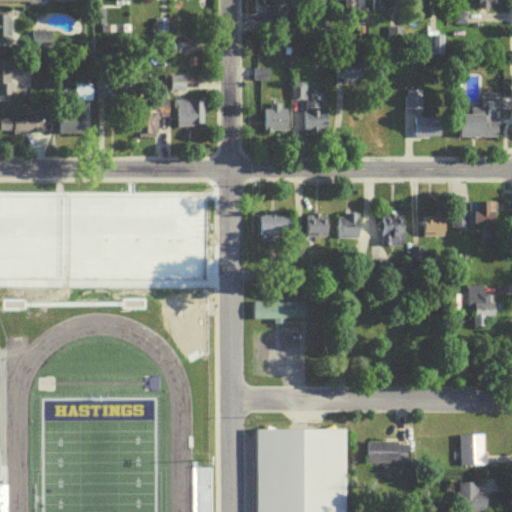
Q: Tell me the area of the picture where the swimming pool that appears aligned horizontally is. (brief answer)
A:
top left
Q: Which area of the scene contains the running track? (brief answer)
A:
bottom left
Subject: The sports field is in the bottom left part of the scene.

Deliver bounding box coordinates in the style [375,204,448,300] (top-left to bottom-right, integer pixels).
[30,336,168,512]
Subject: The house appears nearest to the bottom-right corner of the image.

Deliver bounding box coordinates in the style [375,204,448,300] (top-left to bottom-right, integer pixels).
[460,478,500,512]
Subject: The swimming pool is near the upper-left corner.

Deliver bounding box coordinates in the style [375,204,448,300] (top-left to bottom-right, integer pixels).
[32,13,82,35]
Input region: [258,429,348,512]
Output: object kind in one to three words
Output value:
building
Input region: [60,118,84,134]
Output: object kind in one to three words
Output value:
house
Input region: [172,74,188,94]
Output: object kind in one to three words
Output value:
building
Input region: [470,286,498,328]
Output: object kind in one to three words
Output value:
house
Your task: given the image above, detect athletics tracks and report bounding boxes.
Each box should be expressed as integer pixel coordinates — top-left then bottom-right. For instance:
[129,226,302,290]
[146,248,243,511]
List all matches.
[6,313,191,512]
